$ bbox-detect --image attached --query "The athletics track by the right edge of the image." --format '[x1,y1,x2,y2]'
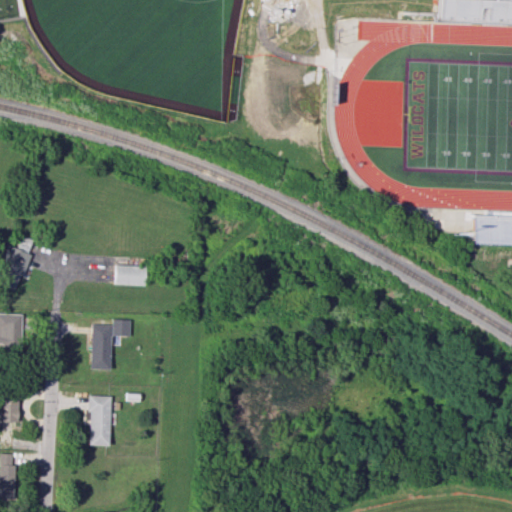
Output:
[334,22,512,209]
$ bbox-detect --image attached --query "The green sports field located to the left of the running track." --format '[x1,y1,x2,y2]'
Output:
[24,0,243,122]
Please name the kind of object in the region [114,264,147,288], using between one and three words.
barn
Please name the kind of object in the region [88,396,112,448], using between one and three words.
house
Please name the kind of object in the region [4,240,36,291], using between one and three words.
house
